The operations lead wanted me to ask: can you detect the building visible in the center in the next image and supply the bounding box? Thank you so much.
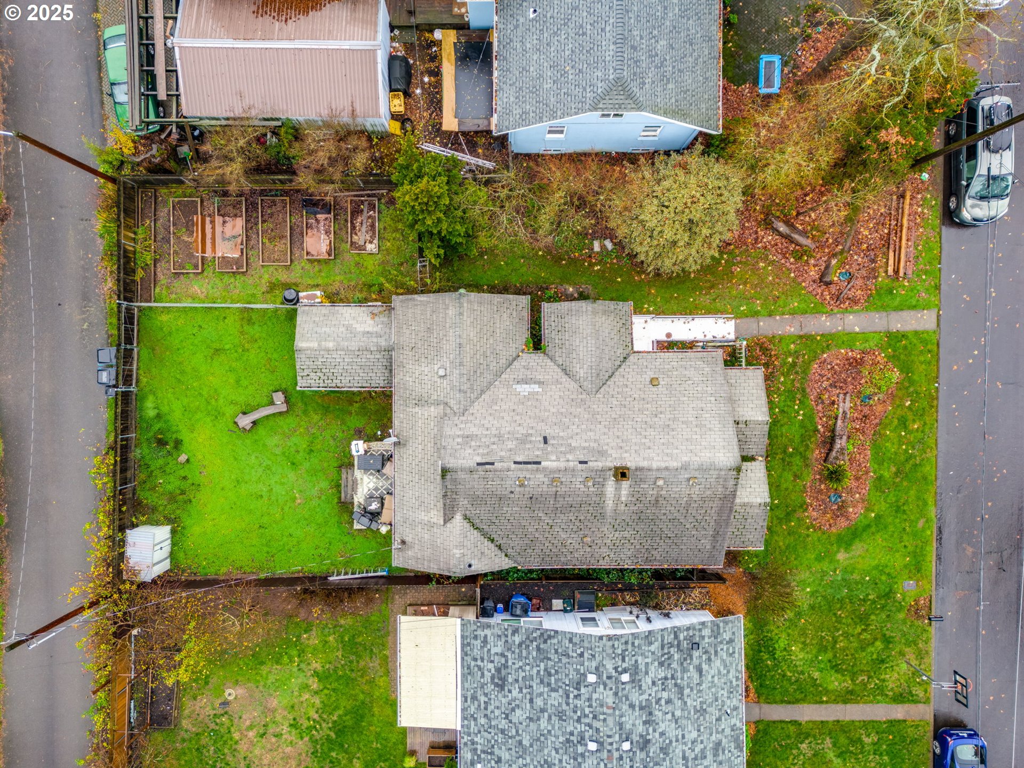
[292,287,775,577]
